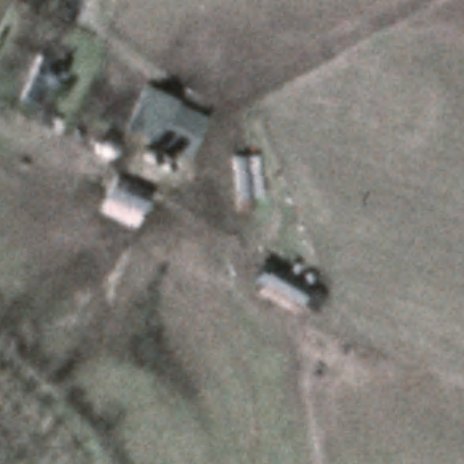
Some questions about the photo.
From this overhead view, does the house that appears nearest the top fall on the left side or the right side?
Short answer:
left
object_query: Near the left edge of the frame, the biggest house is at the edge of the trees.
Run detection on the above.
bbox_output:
[21,55,72,108]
